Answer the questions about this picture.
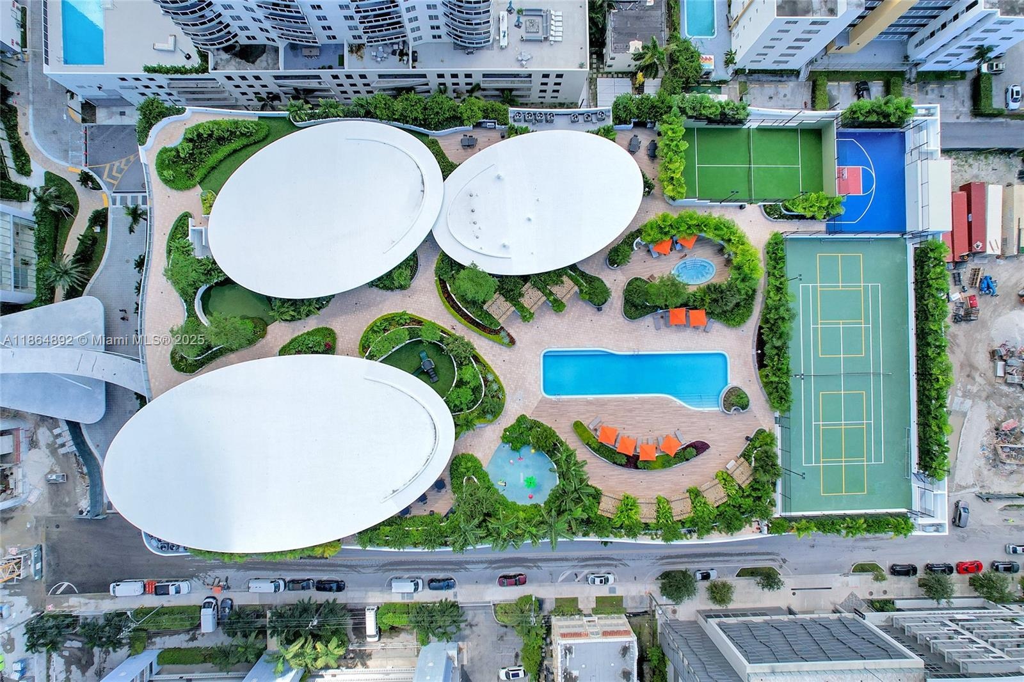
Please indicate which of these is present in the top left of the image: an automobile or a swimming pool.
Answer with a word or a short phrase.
swimming pool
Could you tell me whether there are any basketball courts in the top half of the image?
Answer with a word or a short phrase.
Yes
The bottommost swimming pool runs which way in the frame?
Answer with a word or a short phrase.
from side to side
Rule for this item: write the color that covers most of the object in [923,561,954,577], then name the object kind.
black car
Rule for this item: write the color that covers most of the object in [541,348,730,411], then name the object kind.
blue swimming pool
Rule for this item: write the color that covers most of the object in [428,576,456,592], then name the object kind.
blue car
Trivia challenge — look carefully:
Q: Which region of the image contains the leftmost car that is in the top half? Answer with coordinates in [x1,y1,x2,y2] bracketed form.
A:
[851,76,870,102]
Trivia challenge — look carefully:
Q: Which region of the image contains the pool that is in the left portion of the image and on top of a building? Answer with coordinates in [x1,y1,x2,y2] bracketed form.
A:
[60,0,106,67]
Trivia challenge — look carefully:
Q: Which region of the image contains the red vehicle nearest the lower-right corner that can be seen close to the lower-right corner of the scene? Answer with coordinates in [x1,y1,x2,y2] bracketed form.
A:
[954,559,983,575]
